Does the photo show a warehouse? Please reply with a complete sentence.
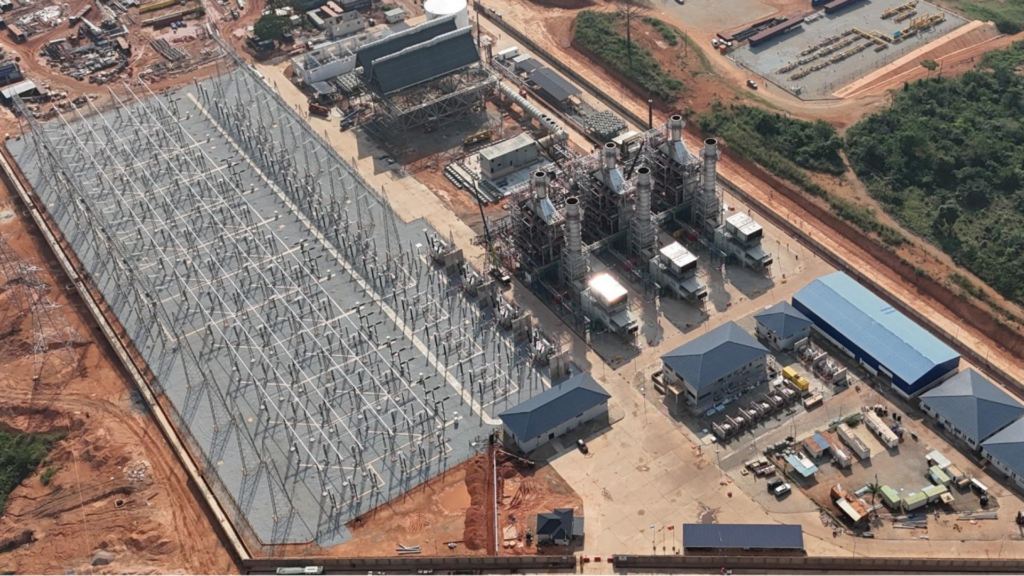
Yes, a warehouse is visible in the scene.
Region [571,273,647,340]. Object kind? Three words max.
house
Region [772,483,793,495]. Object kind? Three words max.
vehicle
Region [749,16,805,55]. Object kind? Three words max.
shed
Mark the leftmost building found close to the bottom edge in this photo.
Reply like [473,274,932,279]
[533,508,588,548]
